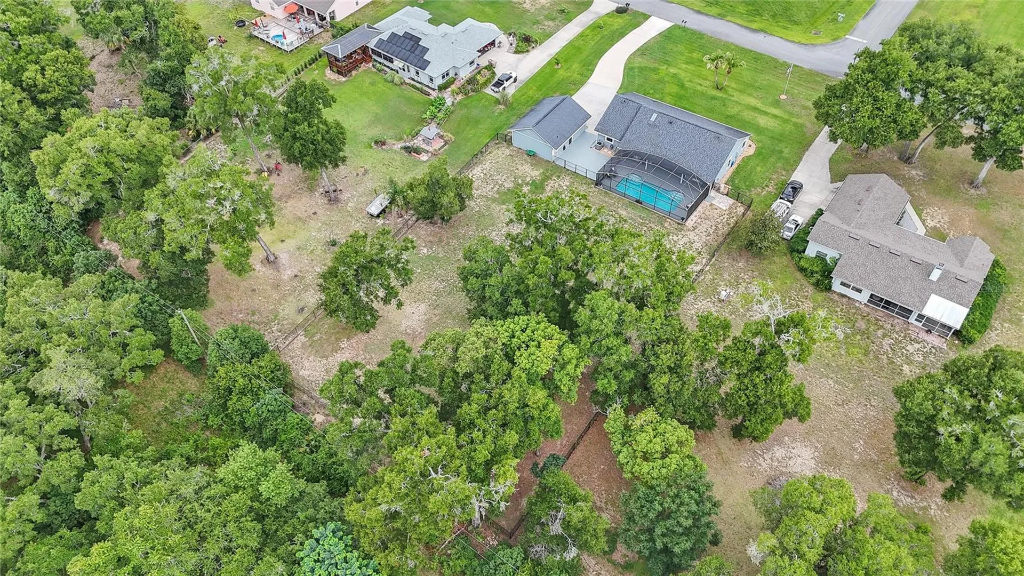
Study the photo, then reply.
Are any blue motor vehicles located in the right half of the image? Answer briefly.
No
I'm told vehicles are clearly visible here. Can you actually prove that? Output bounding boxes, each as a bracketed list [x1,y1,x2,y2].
[780,212,804,241]
[781,177,802,205]
[488,73,521,95]
[769,193,793,226]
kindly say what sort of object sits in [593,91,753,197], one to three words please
house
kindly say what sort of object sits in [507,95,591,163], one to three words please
building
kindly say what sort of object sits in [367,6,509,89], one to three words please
house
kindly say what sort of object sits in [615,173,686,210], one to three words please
swimming pool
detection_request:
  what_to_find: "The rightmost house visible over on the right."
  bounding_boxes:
[804,170,997,339]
